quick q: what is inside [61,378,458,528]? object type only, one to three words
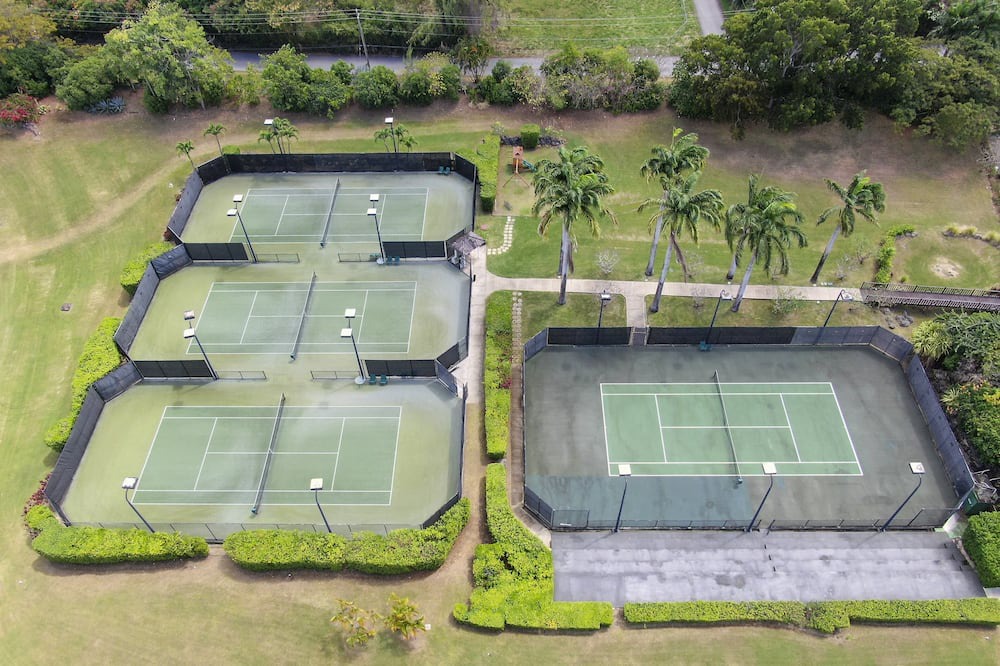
tennis court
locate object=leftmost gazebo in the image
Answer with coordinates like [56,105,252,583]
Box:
[450,233,486,271]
